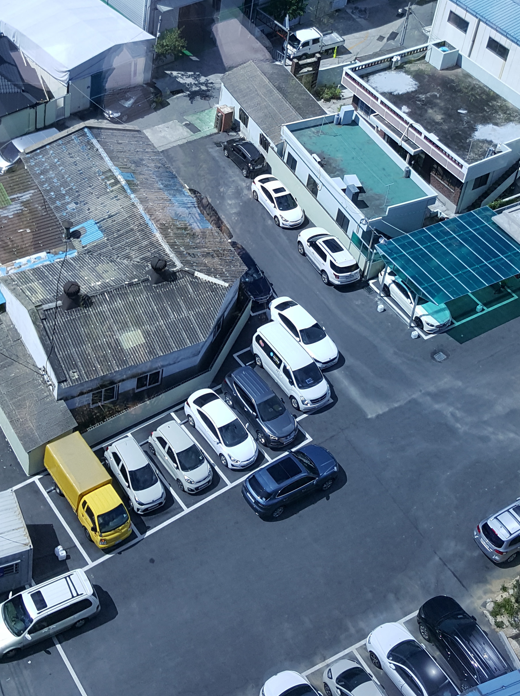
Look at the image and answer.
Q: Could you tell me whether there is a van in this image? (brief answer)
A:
Yes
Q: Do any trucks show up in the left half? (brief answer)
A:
Yes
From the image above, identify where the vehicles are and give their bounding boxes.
[243,315,326,410]
[320,652,392,696]
[248,173,305,232]
[105,80,172,120]
[216,366,298,452]
[0,572,107,666]
[282,22,348,57]
[240,451,345,522]
[470,500,520,565]
[223,232,275,303]
[46,419,127,538]
[269,298,338,371]
[292,229,365,292]
[99,438,162,516]
[254,662,320,696]
[216,139,269,179]
[414,592,520,688]
[142,422,209,497]
[0,118,61,172]
[364,623,461,696]
[177,393,254,477]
